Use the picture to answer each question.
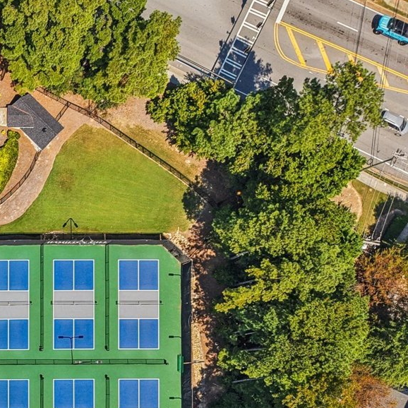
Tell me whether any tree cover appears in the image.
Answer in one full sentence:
Yes, tree cover can be seen from above here.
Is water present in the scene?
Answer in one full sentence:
No, there is no water in the image.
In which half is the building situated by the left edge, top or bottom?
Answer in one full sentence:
You can find the building situated by the left edge in the top half.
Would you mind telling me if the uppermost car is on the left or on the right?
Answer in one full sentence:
The uppermost car is on the right side of the image.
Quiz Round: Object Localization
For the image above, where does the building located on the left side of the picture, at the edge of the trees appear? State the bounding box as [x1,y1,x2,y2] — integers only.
[4,93,64,154]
